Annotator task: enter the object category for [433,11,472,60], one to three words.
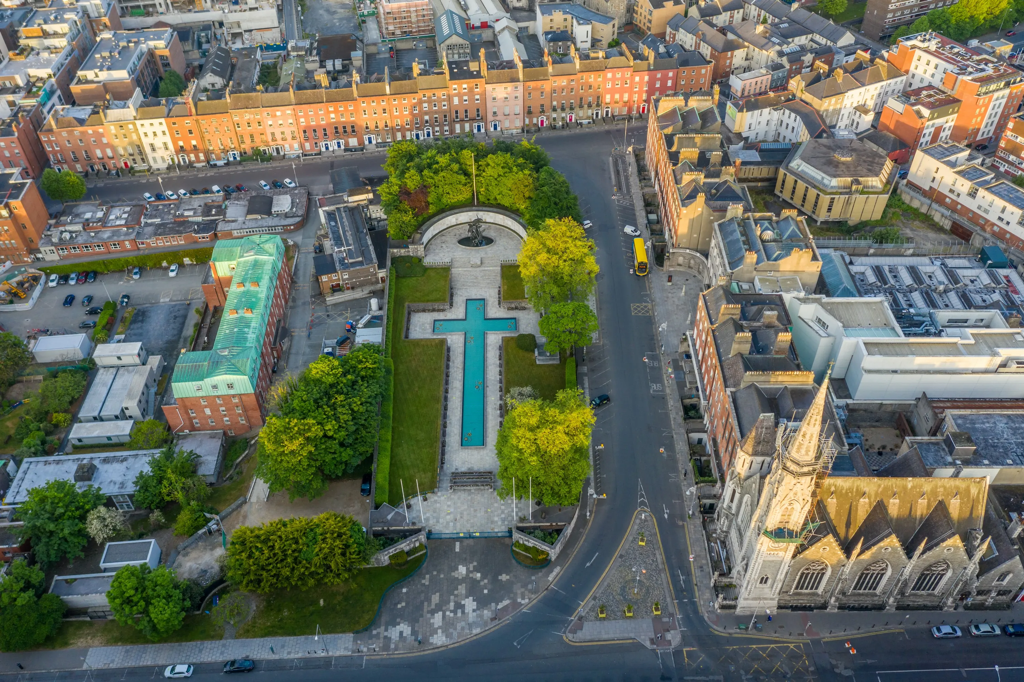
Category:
building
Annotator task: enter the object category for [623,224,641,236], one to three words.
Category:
vehicle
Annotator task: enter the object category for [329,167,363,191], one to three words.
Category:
shed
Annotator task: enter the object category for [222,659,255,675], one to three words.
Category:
car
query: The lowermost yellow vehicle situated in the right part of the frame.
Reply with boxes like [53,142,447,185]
[632,239,649,278]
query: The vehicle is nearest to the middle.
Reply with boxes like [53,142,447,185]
[590,394,612,408]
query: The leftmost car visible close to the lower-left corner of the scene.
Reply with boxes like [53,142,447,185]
[163,664,194,680]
